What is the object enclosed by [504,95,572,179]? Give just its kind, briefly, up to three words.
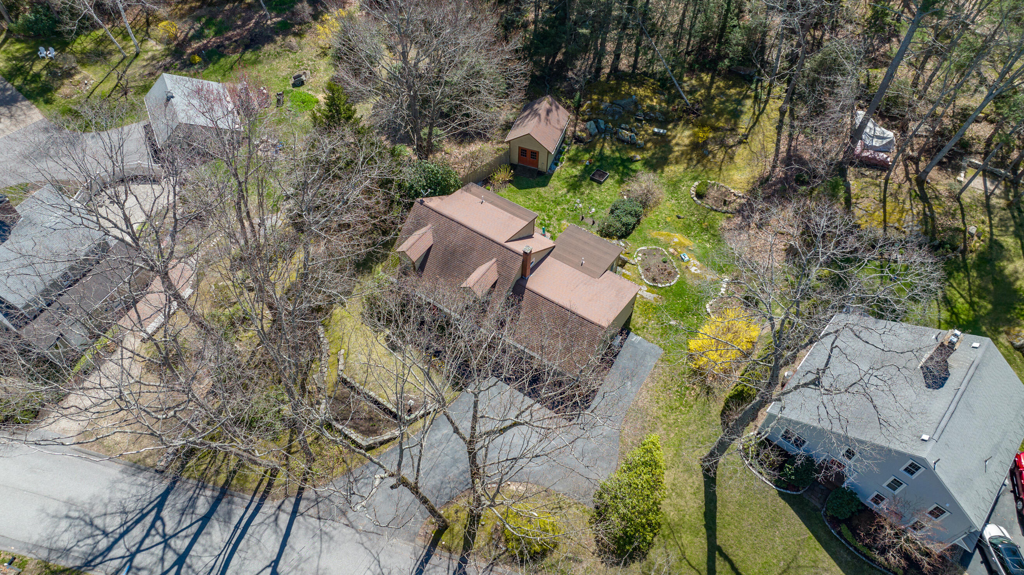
shed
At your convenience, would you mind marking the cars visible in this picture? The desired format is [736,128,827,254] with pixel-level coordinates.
[1011,455,1024,512]
[980,524,1024,575]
